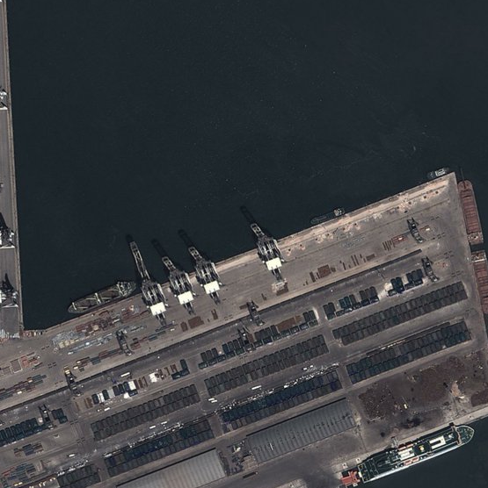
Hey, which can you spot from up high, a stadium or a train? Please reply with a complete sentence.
I can see a train in this picture.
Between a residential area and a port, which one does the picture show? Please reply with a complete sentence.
This image shows a port.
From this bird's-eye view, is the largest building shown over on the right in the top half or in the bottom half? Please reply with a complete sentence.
You can find the largest building shown over on the right in the bottom half.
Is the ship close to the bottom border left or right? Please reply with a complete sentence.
The ship close to the bottom border is on the right side of the image.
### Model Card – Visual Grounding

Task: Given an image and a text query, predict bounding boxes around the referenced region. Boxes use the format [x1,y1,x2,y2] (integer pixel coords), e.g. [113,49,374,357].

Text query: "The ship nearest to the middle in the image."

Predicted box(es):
[310,208,346,223]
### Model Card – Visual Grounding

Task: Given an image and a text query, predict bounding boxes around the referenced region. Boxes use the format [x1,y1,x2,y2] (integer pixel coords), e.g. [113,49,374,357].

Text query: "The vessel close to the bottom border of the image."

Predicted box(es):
[358,427,475,483]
